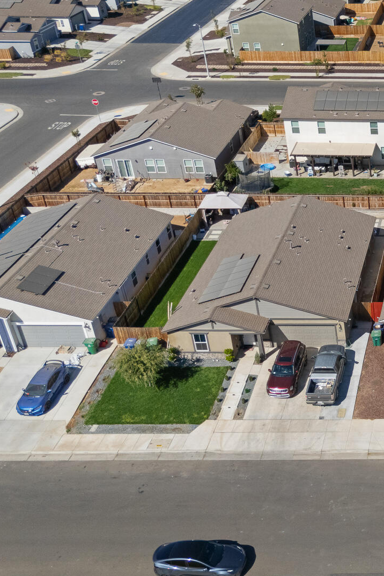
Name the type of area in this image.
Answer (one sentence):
This looks like a residential area.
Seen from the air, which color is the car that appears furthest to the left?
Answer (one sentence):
The car that appears furthest to the left looks blue in the image.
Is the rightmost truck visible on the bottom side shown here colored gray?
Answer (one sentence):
Yes, the rightmost truck visible on the bottom side appears gray.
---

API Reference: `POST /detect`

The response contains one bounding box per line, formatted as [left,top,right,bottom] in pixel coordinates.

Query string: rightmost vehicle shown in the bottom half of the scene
[302,349,348,407]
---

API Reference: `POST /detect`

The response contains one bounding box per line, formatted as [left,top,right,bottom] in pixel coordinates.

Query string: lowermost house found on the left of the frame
[0,194,173,352]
